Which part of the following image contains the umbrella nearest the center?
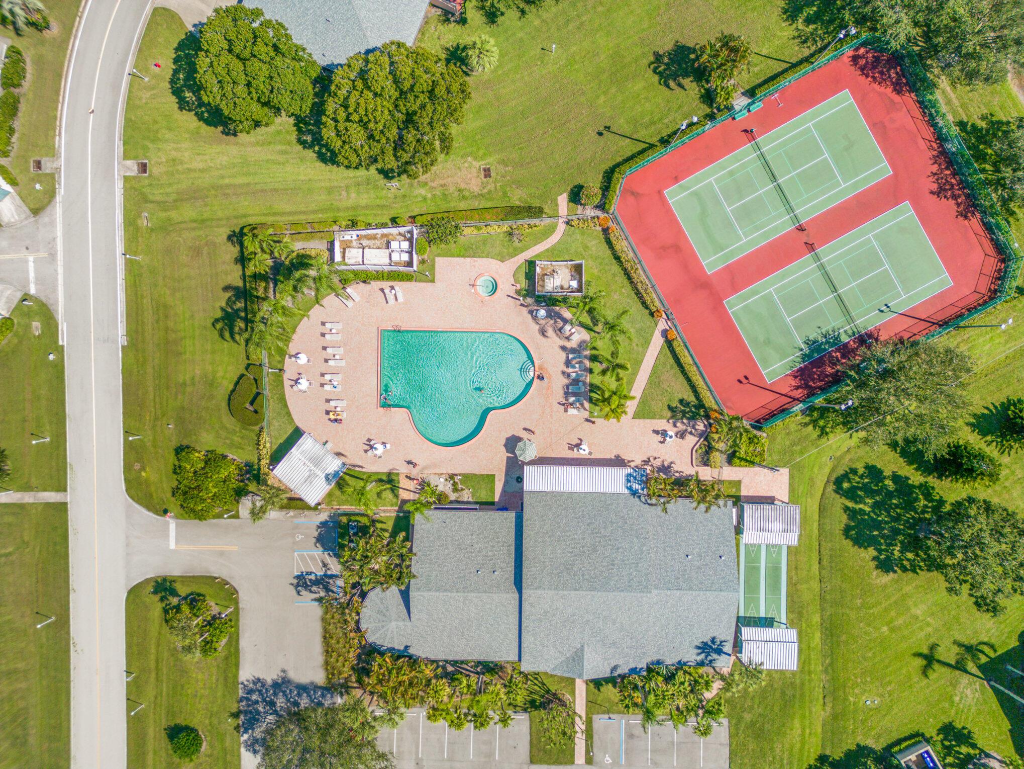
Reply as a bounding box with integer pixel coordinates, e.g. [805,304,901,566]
[515,442,537,464]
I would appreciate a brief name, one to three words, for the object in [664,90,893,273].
tennis court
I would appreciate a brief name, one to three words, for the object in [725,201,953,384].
tennis court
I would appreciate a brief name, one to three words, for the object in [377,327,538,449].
swimming pool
